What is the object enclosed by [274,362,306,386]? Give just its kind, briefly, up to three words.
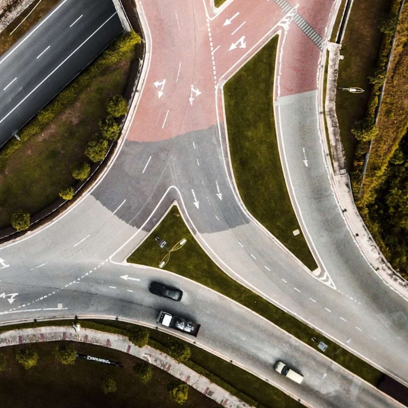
car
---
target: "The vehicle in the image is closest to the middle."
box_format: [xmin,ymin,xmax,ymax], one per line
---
[150,282,183,302]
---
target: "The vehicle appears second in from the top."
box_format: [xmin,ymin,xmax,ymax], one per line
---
[156,310,201,339]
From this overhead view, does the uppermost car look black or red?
black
